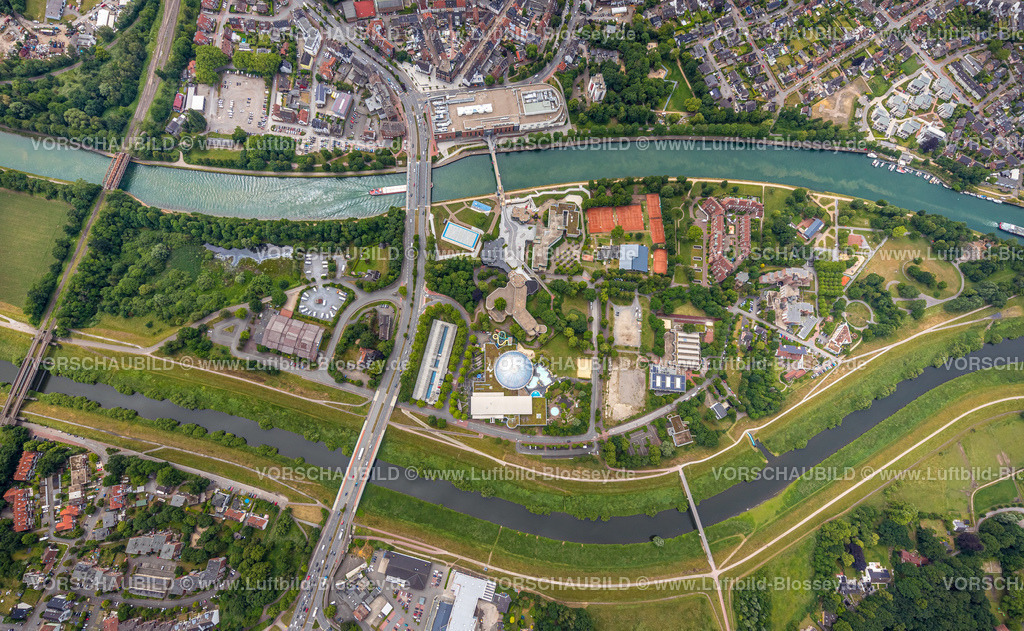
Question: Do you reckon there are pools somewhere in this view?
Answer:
Yes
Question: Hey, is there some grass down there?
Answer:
Yes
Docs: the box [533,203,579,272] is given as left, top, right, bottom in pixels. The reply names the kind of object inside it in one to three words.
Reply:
building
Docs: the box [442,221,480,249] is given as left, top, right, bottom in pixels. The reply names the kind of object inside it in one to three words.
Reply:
swimming pool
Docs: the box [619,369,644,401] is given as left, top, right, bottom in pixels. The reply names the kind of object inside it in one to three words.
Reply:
sports field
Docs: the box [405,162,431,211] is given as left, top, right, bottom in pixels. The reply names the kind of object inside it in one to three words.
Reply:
bridge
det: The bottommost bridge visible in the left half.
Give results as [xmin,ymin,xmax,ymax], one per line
[332,417,389,525]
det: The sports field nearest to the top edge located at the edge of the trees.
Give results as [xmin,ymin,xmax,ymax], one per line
[614,310,643,346]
